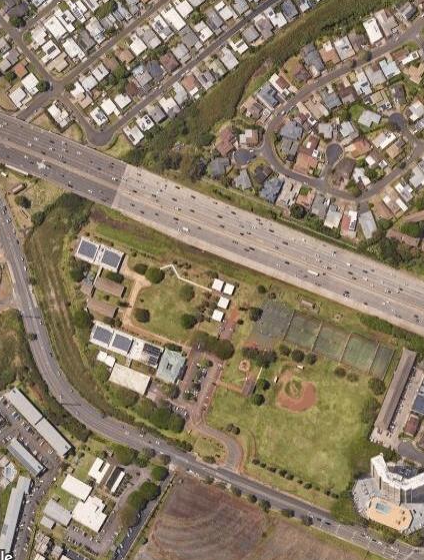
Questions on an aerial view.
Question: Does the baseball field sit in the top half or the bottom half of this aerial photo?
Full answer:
The bottom half of the photo is where the baseball field is.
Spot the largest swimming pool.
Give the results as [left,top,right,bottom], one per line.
[1,462,17,481]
